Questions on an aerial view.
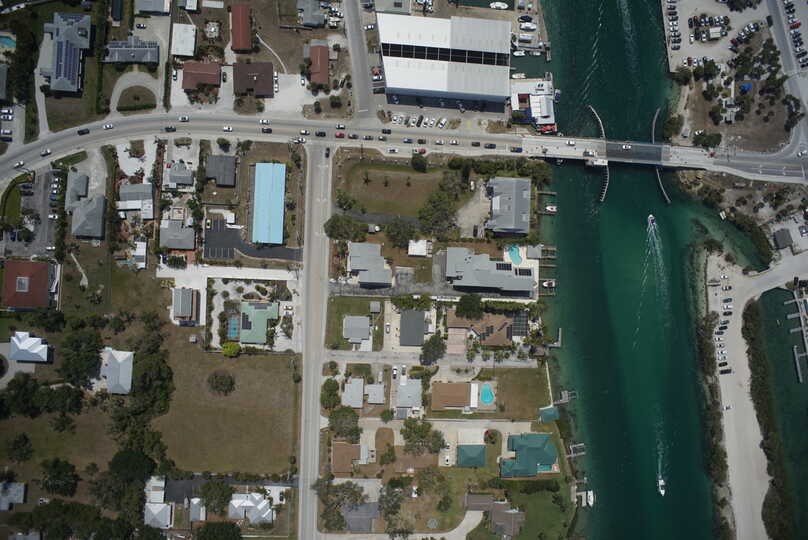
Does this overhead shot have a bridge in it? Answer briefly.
Yes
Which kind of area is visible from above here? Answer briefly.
residential area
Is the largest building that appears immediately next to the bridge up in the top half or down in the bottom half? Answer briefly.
top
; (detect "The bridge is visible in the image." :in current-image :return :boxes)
[522,135,718,167]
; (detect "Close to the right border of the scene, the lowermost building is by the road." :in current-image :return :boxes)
[768,230,793,249]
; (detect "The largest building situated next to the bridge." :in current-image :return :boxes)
[377,13,511,104]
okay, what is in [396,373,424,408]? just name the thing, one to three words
house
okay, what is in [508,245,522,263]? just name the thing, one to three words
swimming pool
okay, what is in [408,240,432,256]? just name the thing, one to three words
building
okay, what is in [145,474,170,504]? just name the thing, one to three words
house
